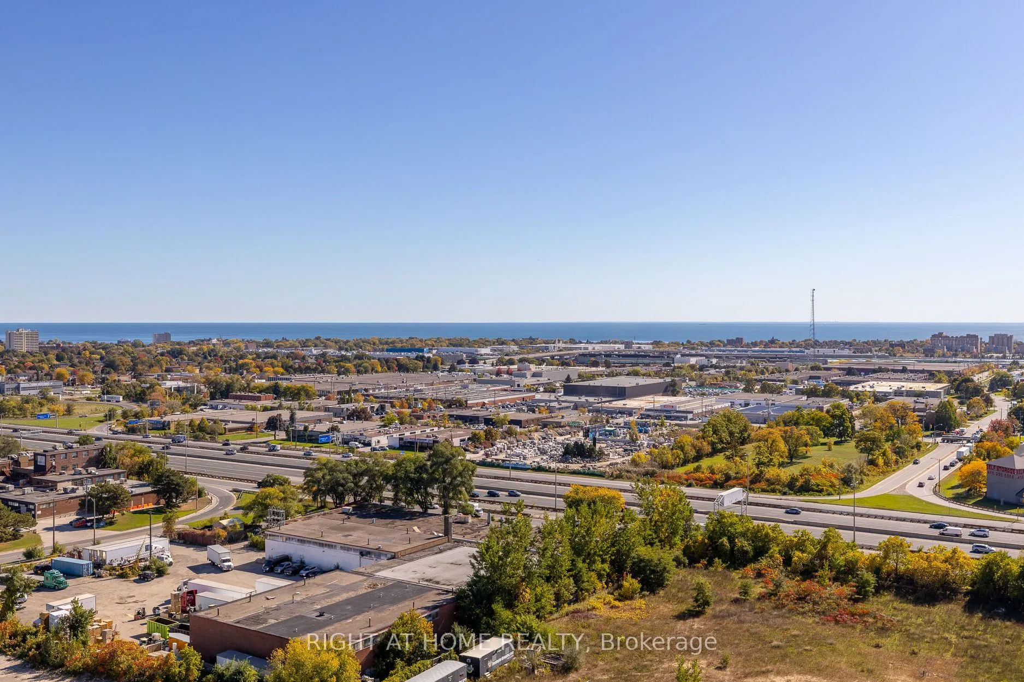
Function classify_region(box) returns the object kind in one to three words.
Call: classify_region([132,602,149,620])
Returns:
work vehicle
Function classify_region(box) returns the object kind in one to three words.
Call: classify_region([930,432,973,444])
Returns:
vehicle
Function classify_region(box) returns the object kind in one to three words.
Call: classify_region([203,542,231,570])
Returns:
truck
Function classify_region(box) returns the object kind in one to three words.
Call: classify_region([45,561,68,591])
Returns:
truck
